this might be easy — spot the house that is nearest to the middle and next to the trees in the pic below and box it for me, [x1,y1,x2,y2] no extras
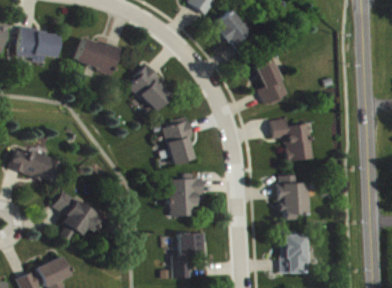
[160,120,198,167]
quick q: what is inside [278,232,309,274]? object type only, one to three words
house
